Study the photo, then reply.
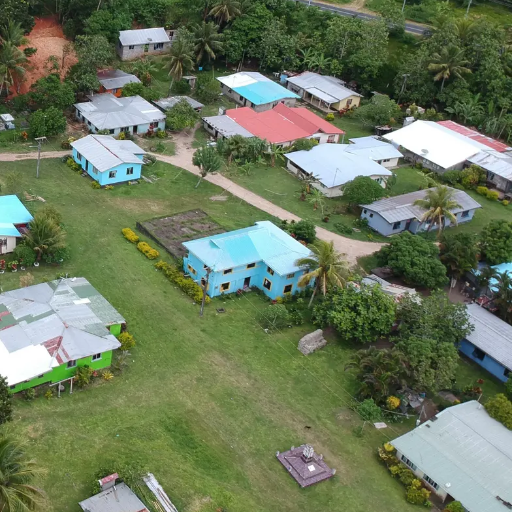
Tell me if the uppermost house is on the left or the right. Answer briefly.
left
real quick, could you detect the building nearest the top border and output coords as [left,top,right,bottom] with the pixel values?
[120,31,180,61]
